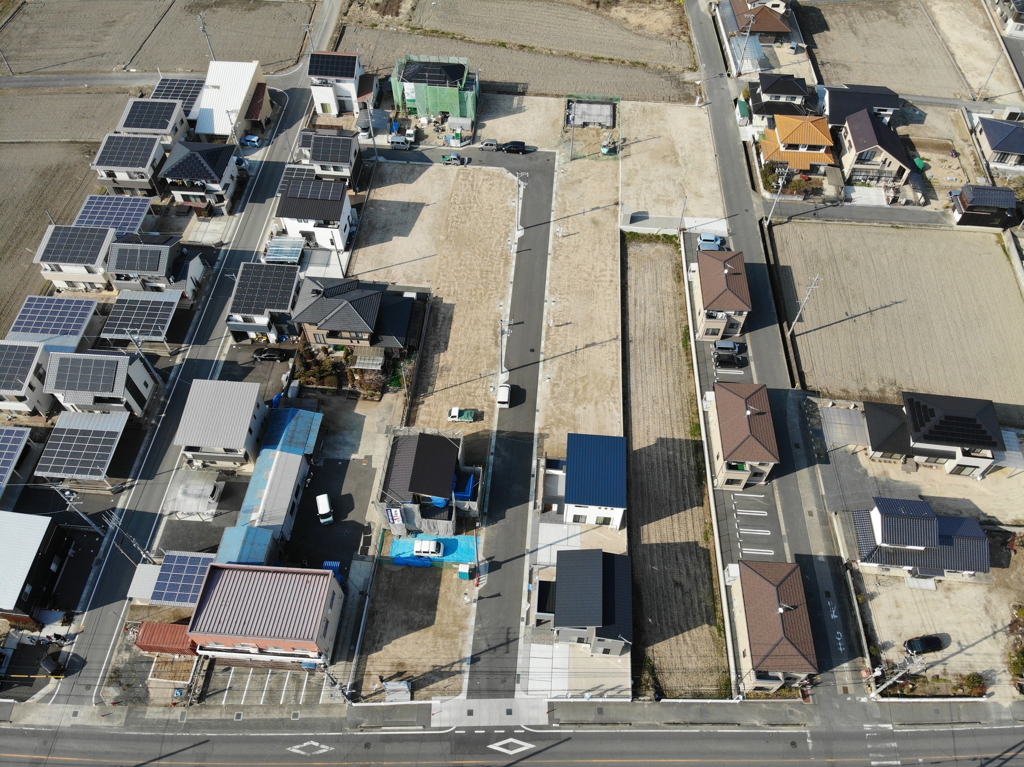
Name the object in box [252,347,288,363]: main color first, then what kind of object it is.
black car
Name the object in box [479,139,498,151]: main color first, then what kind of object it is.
gray vehicle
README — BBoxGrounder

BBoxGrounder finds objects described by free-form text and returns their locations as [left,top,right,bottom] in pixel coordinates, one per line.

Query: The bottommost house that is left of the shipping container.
[0,513,78,642]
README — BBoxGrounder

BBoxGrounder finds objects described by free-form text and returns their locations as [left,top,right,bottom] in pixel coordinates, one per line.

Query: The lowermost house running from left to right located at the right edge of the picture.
[845,497,990,574]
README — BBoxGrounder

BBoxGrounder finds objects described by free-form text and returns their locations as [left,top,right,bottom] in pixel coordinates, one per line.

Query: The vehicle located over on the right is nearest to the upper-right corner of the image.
[944,186,963,199]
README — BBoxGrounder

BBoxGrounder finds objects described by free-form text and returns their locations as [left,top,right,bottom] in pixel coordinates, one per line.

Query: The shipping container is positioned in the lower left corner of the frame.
[135,621,203,655]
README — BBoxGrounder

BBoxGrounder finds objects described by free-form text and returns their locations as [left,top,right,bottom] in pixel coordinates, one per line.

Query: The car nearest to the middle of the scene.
[497,380,511,406]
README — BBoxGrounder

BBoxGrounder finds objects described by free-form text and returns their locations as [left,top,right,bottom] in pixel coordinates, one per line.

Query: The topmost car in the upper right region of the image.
[785,39,800,55]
